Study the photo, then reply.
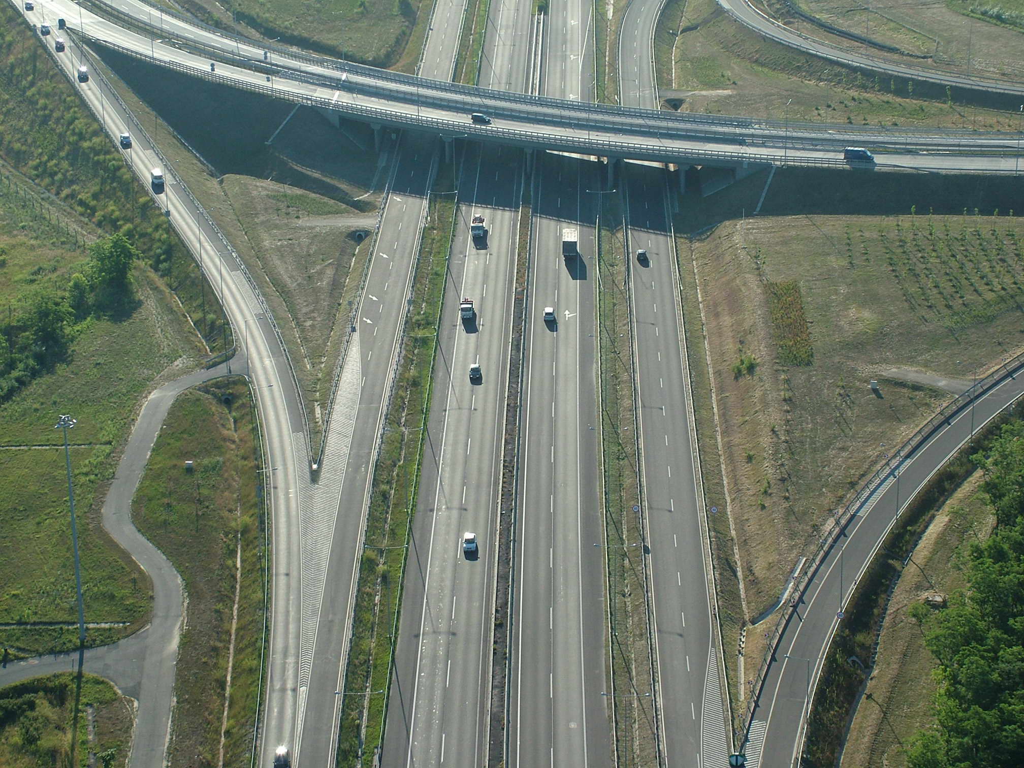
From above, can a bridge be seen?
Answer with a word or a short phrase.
Yes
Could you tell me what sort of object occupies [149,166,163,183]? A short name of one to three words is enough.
vehicle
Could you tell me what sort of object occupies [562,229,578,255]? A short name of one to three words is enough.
vehicle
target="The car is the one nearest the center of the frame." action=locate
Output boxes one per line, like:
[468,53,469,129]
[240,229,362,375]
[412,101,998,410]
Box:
[469,361,481,376]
